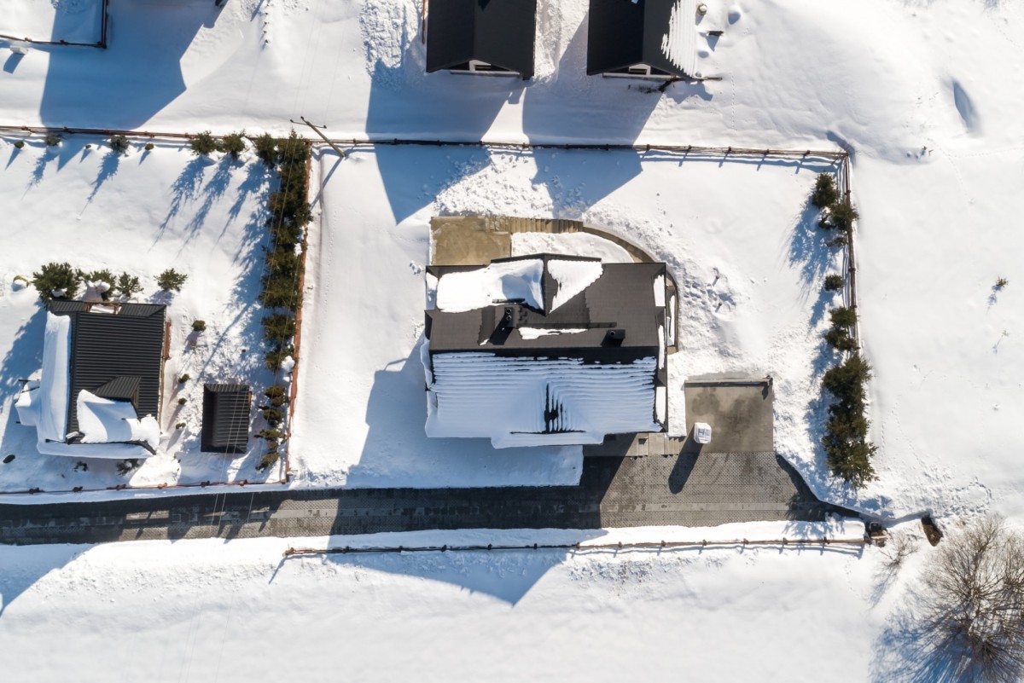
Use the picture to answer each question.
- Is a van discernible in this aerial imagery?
No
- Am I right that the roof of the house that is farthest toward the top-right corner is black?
Yes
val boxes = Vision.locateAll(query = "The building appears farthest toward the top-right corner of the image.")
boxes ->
[587,0,698,81]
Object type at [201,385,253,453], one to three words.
shed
